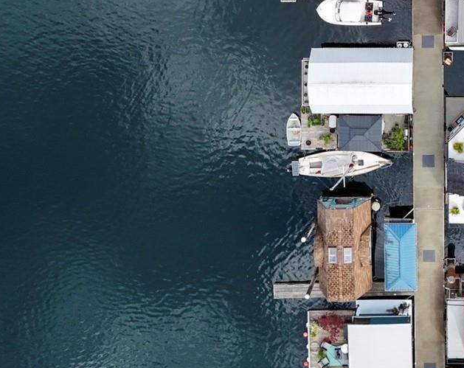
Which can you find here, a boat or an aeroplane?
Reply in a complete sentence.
The image shows a boat.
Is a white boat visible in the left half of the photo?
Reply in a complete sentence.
No, there's no white boat to be seen in the left half of the photo.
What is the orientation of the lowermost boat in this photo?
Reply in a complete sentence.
From this overhead view, the lowermost boat appears to run horizontally.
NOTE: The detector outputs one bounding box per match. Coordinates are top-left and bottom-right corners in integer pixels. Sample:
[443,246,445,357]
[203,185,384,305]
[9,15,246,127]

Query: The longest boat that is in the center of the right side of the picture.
[287,151,397,196]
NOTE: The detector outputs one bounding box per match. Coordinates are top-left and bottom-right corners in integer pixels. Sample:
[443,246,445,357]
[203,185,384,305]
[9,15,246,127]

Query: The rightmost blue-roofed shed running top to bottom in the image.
[383,210,418,293]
